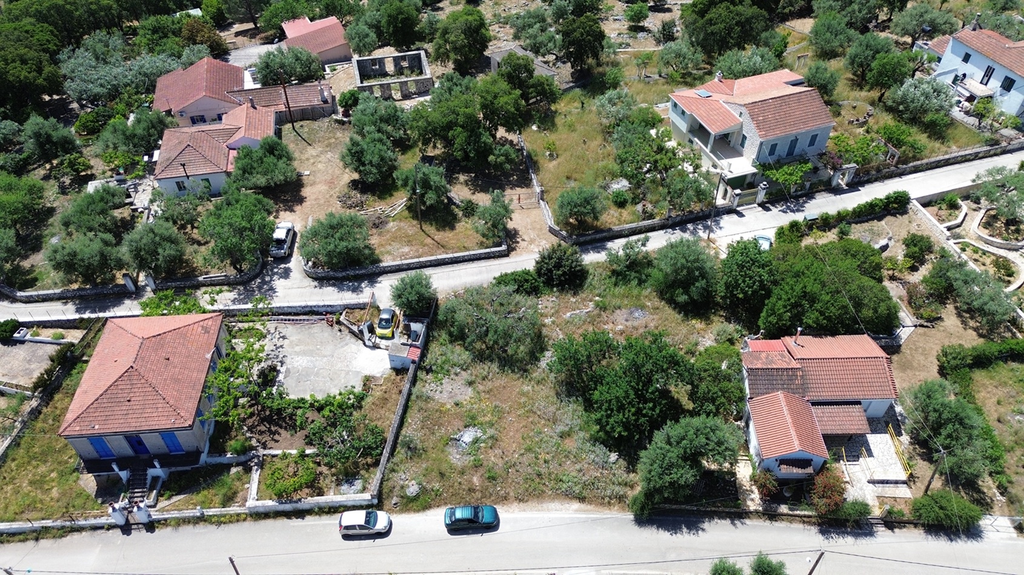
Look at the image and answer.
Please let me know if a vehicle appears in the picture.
Yes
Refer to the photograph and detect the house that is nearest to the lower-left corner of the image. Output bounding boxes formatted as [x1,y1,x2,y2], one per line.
[57,311,227,519]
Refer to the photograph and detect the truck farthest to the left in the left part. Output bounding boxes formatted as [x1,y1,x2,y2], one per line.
[263,223,296,257]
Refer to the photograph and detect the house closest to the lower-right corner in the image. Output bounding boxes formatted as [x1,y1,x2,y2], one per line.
[734,327,912,489]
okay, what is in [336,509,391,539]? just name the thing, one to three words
car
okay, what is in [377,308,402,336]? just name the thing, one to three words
car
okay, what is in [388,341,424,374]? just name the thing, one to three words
shed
